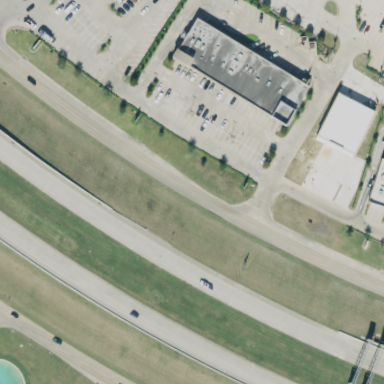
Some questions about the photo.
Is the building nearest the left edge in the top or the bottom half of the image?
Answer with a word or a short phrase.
top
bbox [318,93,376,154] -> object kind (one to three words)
building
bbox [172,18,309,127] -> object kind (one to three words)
building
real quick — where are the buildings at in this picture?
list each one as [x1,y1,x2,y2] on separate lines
[318,93,376,154]
[172,18,309,127]
[369,156,384,206]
